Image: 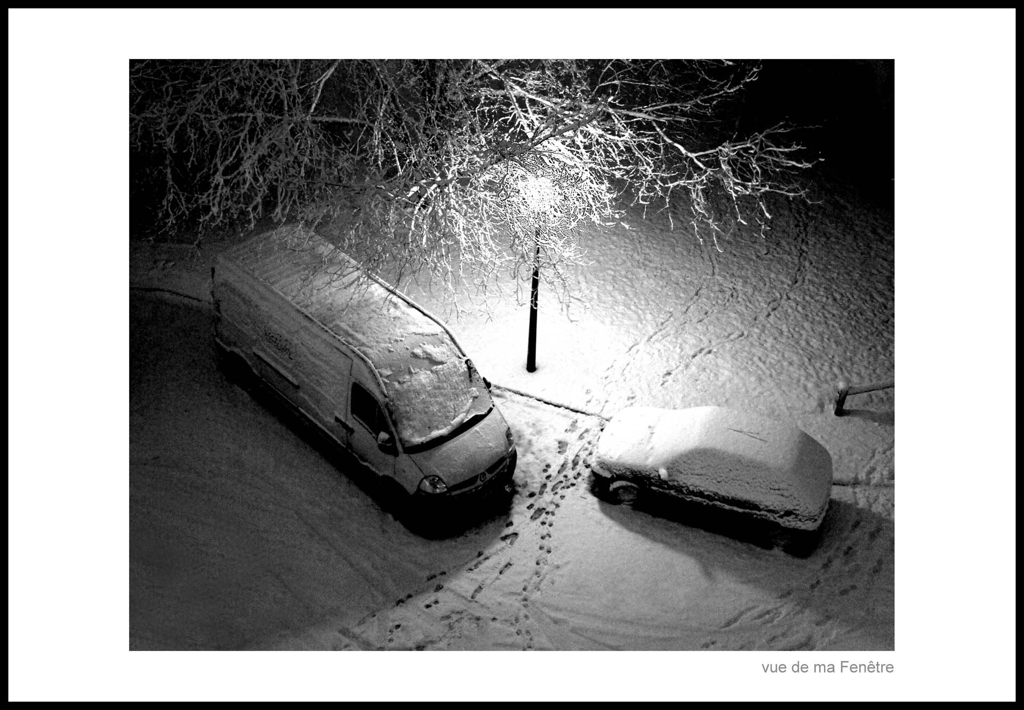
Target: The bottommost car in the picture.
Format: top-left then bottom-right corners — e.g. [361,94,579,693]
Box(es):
[587,399,849,552]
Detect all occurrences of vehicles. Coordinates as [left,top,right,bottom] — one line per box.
[218,224,521,526]
[587,399,849,552]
